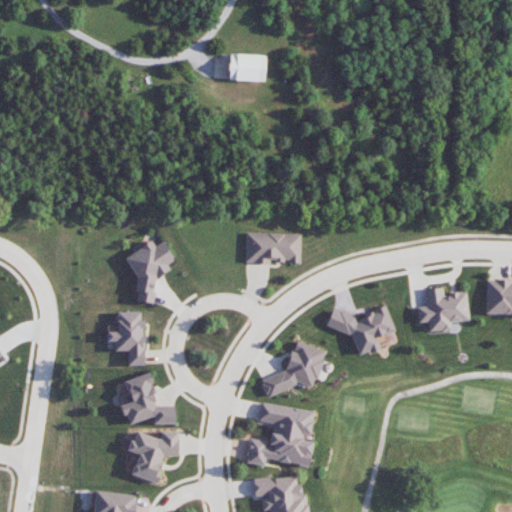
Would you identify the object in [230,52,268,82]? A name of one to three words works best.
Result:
barn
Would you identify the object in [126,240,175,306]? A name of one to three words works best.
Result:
house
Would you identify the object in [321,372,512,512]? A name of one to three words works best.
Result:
golf course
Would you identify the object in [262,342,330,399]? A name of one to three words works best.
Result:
house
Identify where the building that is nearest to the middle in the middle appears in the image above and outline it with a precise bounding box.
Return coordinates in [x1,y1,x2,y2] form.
[246,233,302,265]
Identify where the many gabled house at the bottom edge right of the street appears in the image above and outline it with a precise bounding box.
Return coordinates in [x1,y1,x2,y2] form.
[249,476,310,512]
